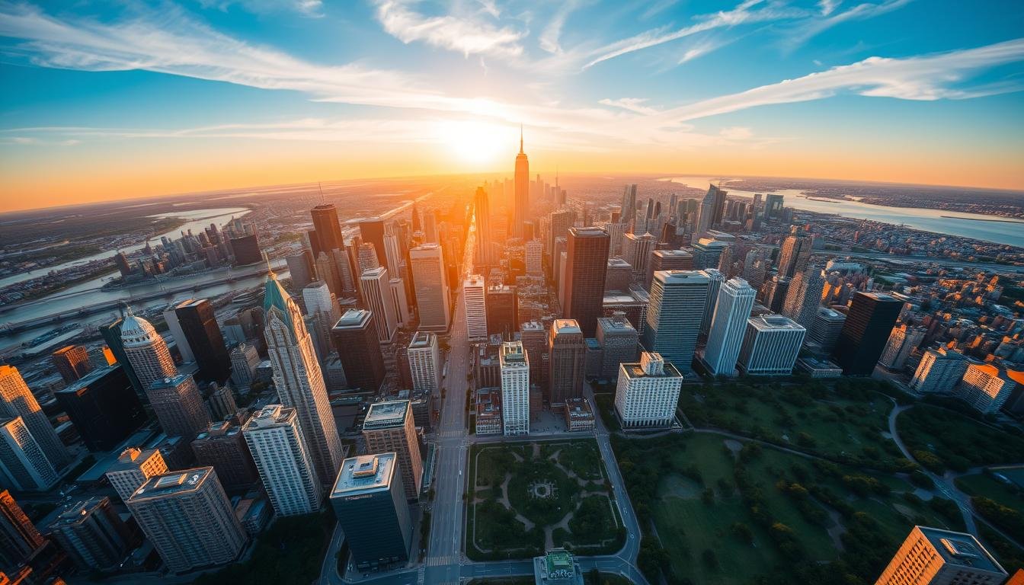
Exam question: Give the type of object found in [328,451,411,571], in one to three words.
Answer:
building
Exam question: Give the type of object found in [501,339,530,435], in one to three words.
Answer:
building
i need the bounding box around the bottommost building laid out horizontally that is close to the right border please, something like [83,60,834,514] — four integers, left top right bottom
[884,526,1009,585]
